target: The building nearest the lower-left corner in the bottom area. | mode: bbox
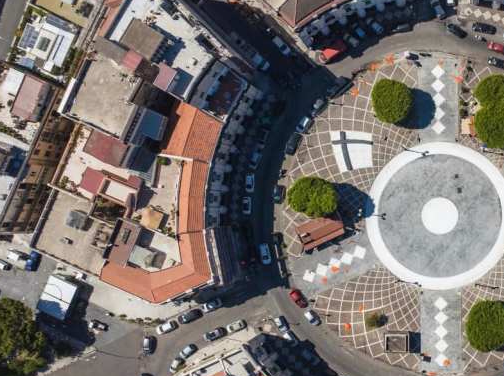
[39,274,82,320]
